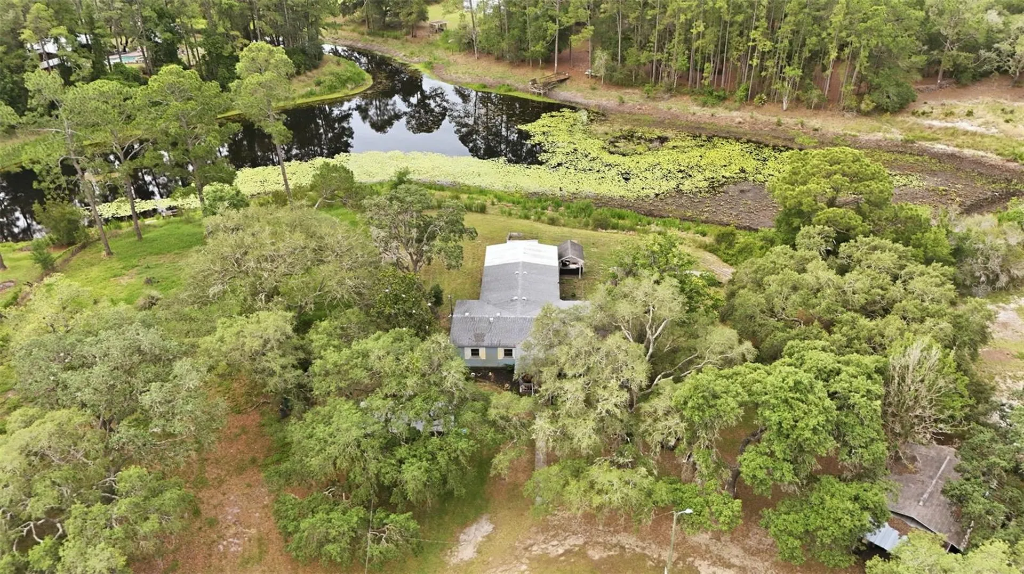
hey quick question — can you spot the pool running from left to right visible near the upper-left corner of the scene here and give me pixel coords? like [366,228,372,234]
[105,49,150,67]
